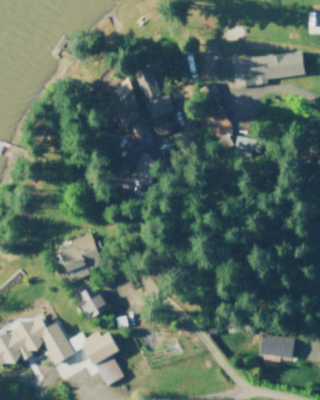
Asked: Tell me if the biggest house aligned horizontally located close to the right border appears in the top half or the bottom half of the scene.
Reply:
top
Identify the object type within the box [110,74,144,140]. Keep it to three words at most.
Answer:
house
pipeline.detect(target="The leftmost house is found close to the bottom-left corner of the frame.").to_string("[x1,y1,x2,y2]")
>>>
[0,312,74,368]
